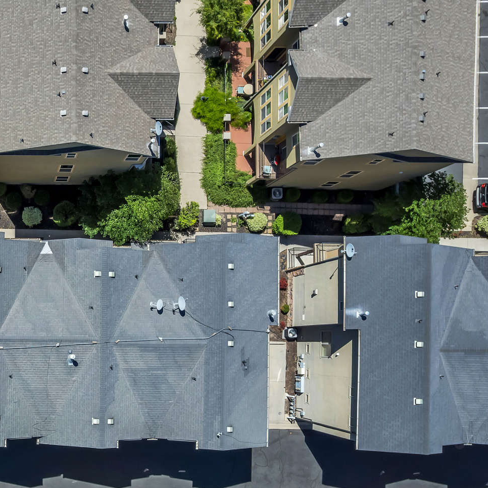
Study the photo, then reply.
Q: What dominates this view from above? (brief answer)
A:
buildings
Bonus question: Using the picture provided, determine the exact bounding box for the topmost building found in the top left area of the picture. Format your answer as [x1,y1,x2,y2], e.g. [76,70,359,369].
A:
[0,0,180,183]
